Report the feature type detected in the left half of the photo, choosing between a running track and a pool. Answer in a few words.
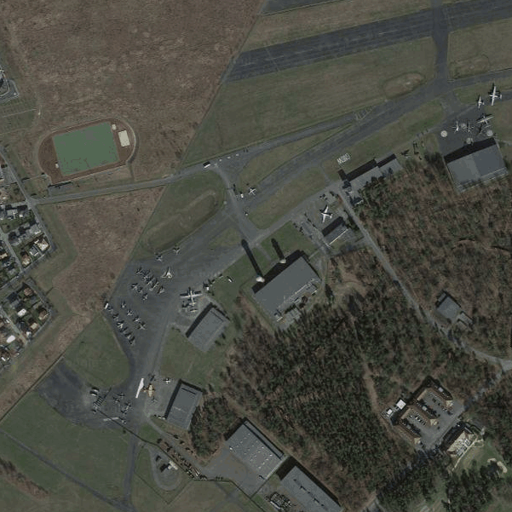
running track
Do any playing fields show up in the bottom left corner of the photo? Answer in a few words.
No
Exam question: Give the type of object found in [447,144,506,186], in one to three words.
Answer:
hangar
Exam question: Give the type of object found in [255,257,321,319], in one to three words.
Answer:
hangar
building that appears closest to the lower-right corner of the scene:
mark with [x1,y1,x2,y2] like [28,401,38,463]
[440,427,475,458]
